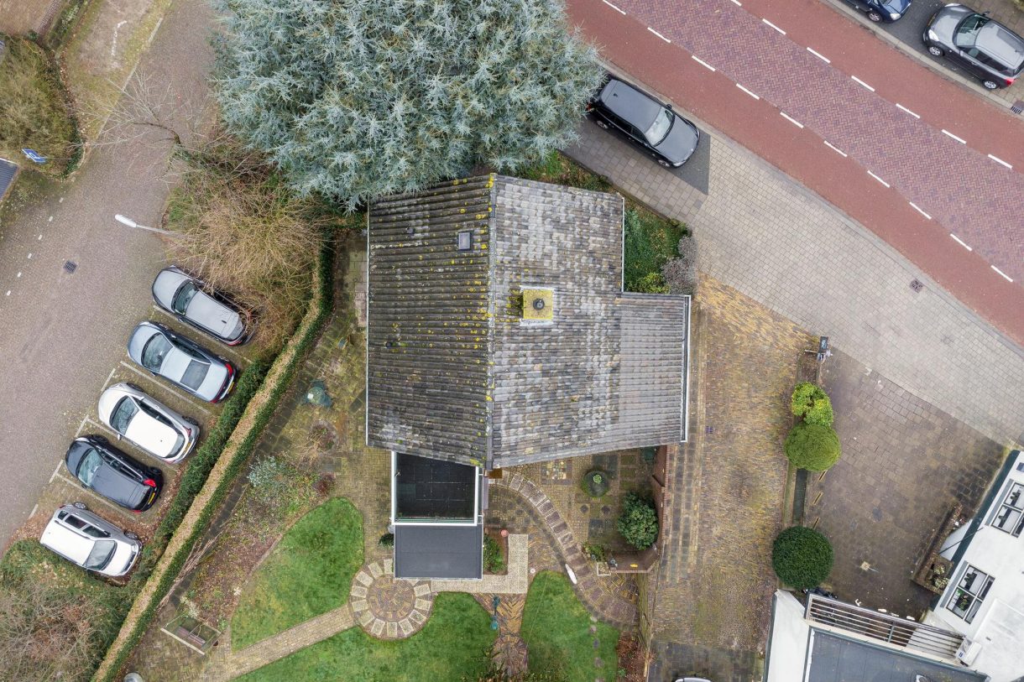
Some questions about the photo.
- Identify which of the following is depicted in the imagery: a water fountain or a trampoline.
water fountain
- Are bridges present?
No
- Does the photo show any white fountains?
No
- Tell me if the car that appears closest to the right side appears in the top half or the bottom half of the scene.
top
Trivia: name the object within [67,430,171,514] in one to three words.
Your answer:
car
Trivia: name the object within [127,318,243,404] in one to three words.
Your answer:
car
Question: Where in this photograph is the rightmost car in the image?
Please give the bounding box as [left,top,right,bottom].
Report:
[919,5,1024,96]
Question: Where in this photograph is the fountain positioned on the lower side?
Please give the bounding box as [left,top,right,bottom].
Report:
[581,466,610,496]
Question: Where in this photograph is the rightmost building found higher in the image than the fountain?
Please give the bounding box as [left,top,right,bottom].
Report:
[363,169,697,473]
